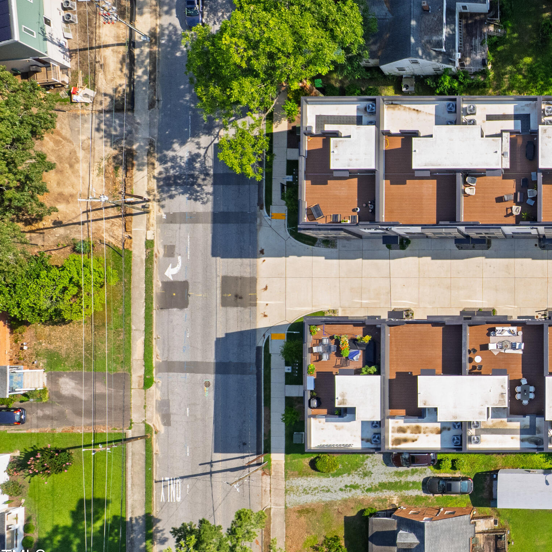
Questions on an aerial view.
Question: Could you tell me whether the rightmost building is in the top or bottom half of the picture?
bottom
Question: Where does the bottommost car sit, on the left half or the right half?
right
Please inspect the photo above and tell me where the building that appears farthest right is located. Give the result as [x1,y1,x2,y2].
[497,469,552,509]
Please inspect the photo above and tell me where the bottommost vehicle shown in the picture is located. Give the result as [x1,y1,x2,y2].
[428,474,473,496]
